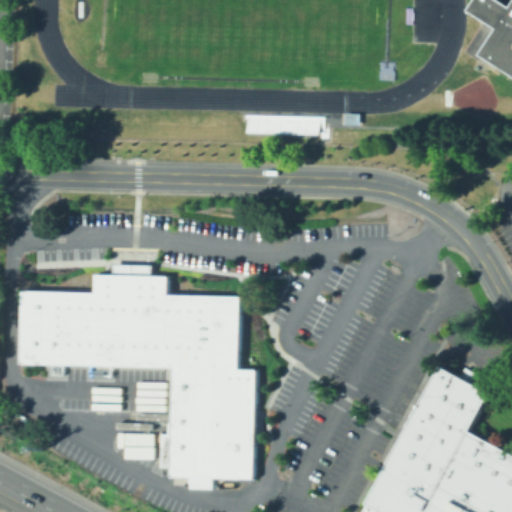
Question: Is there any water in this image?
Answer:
No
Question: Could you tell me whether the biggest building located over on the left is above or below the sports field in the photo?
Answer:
below it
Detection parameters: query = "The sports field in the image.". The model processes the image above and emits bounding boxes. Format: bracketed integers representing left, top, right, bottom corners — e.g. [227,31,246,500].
[59,0,436,90]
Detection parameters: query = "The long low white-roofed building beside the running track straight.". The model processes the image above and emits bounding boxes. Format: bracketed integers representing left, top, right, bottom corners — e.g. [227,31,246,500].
[246,114,330,140]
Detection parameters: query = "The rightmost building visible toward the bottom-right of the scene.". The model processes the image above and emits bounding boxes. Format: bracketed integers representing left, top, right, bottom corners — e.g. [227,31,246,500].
[360,368,512,512]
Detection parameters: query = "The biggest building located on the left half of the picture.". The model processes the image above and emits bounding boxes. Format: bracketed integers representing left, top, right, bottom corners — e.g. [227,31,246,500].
[17,265,258,492]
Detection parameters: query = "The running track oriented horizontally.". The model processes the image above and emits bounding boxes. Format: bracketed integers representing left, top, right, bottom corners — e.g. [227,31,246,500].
[36,0,467,114]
